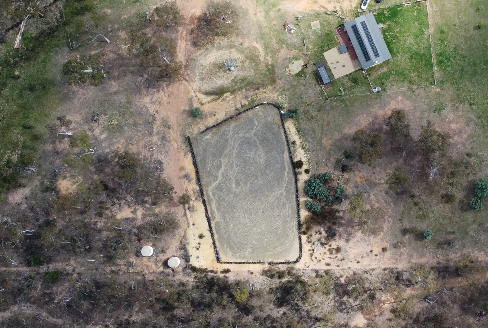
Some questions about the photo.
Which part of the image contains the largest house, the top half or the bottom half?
top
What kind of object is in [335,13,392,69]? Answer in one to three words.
house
